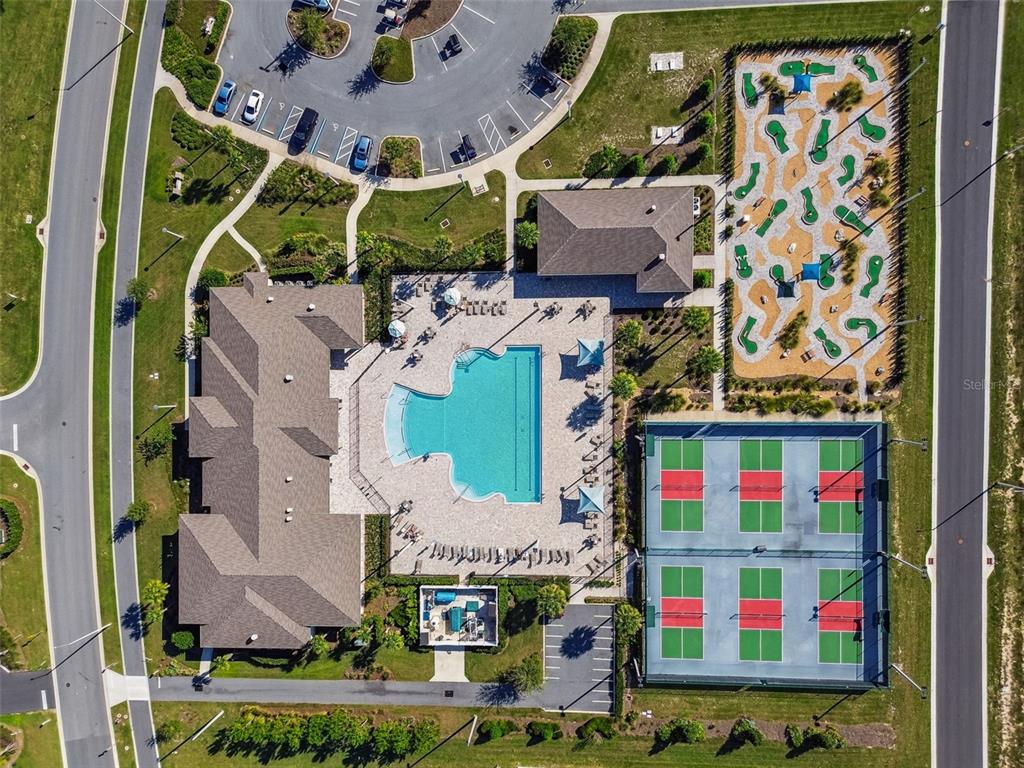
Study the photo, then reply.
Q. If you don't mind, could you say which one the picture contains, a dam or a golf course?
golf course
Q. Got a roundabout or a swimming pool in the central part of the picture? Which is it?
swimming pool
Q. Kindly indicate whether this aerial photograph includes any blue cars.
Yes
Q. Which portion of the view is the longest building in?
left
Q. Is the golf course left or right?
right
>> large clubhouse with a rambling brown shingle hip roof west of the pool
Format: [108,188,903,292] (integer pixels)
[178,272,363,649]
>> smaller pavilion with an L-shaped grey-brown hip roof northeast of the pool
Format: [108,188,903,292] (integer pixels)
[537,186,694,293]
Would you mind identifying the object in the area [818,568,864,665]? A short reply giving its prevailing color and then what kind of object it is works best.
green sports court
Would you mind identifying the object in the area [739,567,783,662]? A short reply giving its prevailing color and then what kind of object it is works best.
green sports court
